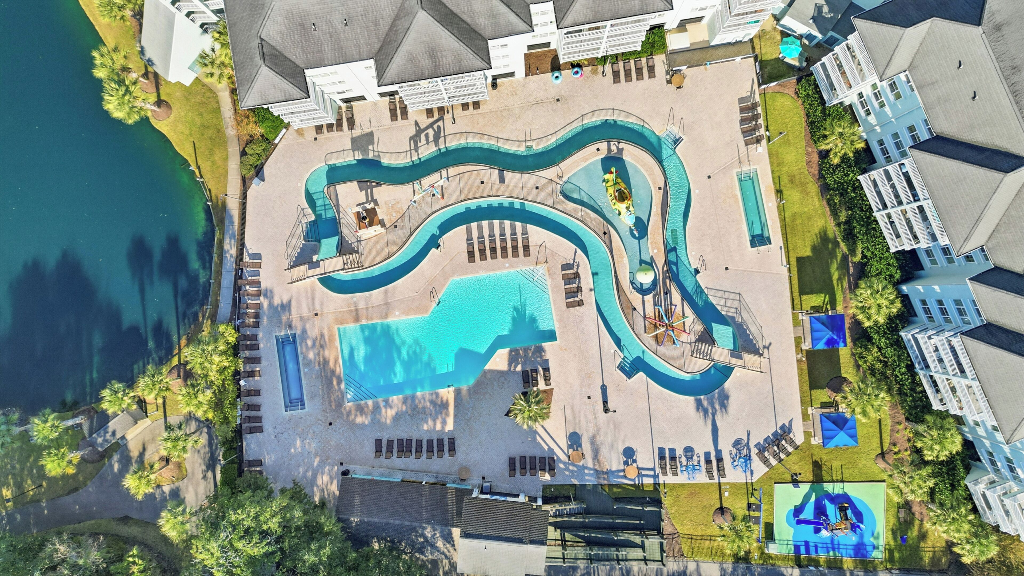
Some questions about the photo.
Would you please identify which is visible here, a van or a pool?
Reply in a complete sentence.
There is a pool in the scene.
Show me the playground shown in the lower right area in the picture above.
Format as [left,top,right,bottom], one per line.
[797,499,862,543]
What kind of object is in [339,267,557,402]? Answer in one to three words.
swimming pool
